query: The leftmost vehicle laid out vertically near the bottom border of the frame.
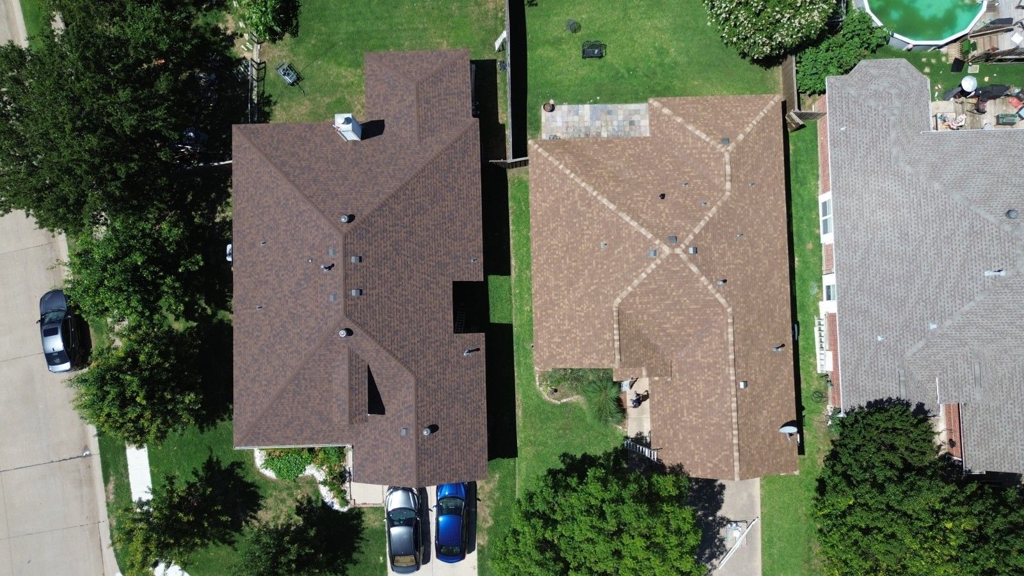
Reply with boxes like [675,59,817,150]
[381,488,422,576]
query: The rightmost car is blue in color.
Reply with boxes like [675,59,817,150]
[433,483,471,567]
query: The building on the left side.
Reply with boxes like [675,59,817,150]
[231,47,487,487]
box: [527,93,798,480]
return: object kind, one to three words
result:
house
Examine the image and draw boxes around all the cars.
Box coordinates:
[381,488,422,576]
[34,289,85,375]
[433,483,471,567]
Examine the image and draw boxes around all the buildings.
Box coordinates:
[819,59,1024,478]
[527,93,798,480]
[231,47,487,487]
